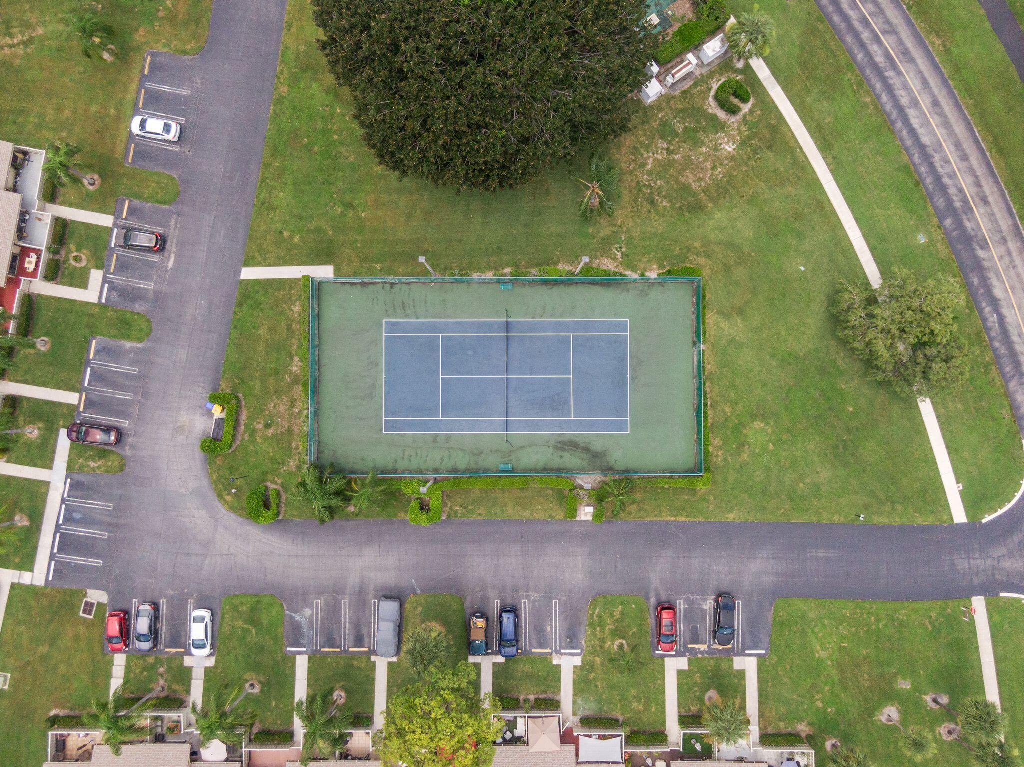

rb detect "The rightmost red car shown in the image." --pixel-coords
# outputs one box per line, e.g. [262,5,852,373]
[656,603,680,651]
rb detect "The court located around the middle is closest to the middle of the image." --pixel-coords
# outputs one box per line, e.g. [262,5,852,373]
[318,283,696,473]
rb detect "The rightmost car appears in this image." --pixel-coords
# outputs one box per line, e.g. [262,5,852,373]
[713,594,737,645]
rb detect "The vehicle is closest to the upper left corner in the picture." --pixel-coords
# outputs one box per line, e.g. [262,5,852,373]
[131,114,181,142]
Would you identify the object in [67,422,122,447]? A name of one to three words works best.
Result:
car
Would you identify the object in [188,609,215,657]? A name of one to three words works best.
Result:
car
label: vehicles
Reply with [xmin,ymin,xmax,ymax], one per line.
[115,226,165,253]
[131,114,181,142]
[105,612,132,652]
[67,422,122,447]
[656,603,680,651]
[713,594,737,645]
[188,609,215,657]
[469,615,488,655]
[133,603,161,652]
[496,606,521,656]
